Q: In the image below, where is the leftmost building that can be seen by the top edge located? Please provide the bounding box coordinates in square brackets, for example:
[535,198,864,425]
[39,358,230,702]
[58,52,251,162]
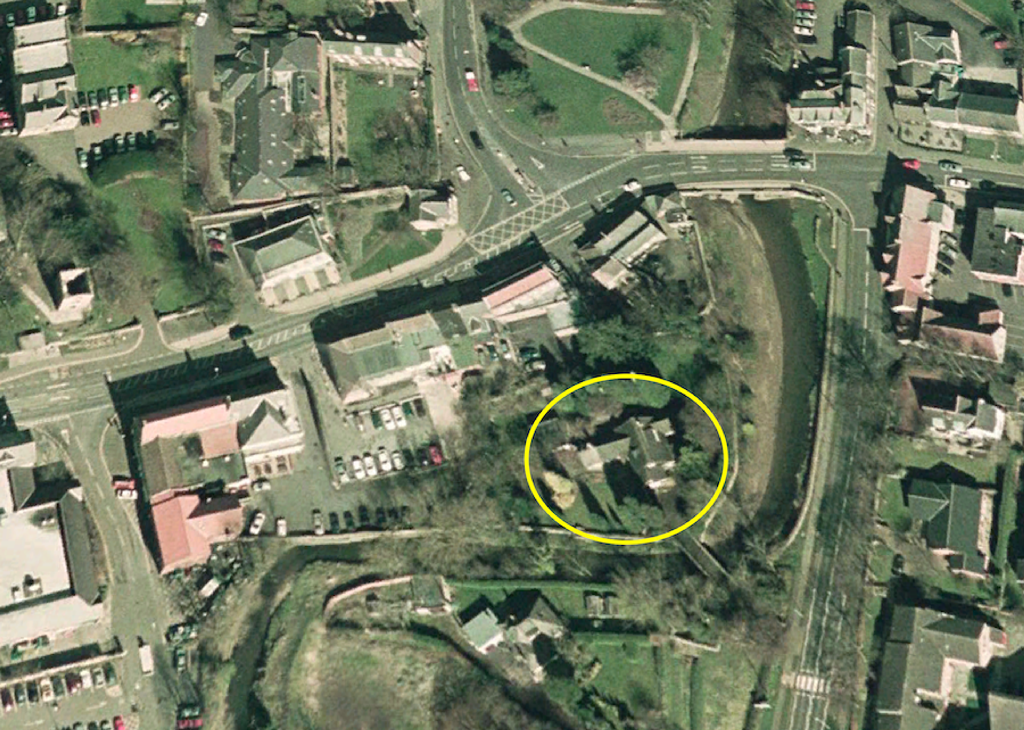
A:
[12,11,82,133]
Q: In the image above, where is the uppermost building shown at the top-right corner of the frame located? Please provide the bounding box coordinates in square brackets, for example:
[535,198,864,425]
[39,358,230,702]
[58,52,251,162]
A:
[893,18,961,92]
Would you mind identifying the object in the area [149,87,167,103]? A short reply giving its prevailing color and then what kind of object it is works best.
white car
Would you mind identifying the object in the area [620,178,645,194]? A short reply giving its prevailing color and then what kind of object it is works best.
white vehicle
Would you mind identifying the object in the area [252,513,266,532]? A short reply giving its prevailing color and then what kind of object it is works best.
white car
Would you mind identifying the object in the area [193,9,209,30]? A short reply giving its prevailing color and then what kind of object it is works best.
white vehicle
